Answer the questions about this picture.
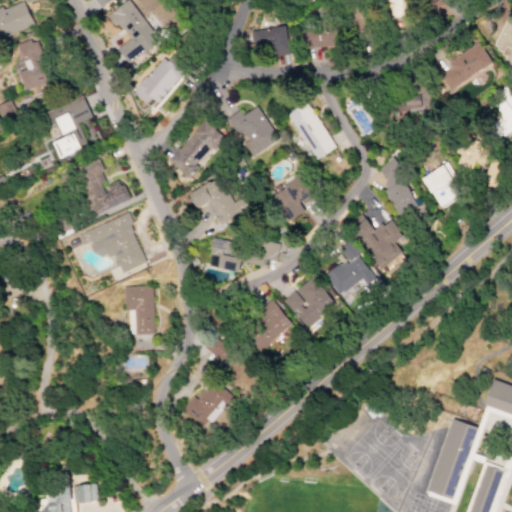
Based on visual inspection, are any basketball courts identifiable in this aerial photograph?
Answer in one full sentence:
Yes, there's a basketball court down there.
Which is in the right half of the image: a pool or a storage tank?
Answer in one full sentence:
It is a pool that can be seen in the right half of the image.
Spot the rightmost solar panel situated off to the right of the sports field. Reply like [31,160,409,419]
[482,470,502,512]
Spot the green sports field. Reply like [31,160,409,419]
[247,482,390,512]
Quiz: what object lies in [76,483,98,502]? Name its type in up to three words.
building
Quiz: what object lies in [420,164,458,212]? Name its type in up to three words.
house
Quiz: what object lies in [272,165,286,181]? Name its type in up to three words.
swimming pool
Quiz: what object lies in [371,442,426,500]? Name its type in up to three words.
basketball court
